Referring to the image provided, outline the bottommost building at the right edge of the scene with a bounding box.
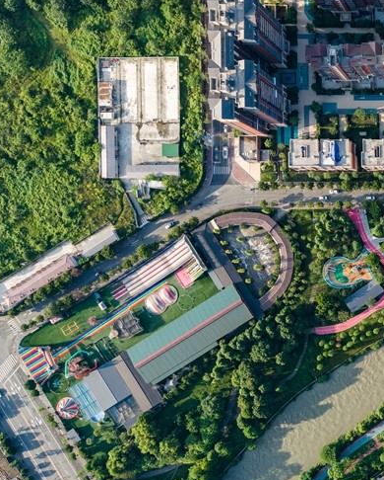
[345,279,384,311]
